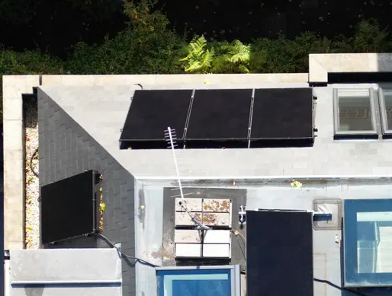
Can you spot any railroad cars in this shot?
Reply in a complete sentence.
No, there is no railroad car in the image.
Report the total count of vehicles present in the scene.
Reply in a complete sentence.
The photo contains no vehicles.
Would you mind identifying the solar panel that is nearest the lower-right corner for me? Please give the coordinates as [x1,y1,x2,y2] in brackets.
[247,210,312,296]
